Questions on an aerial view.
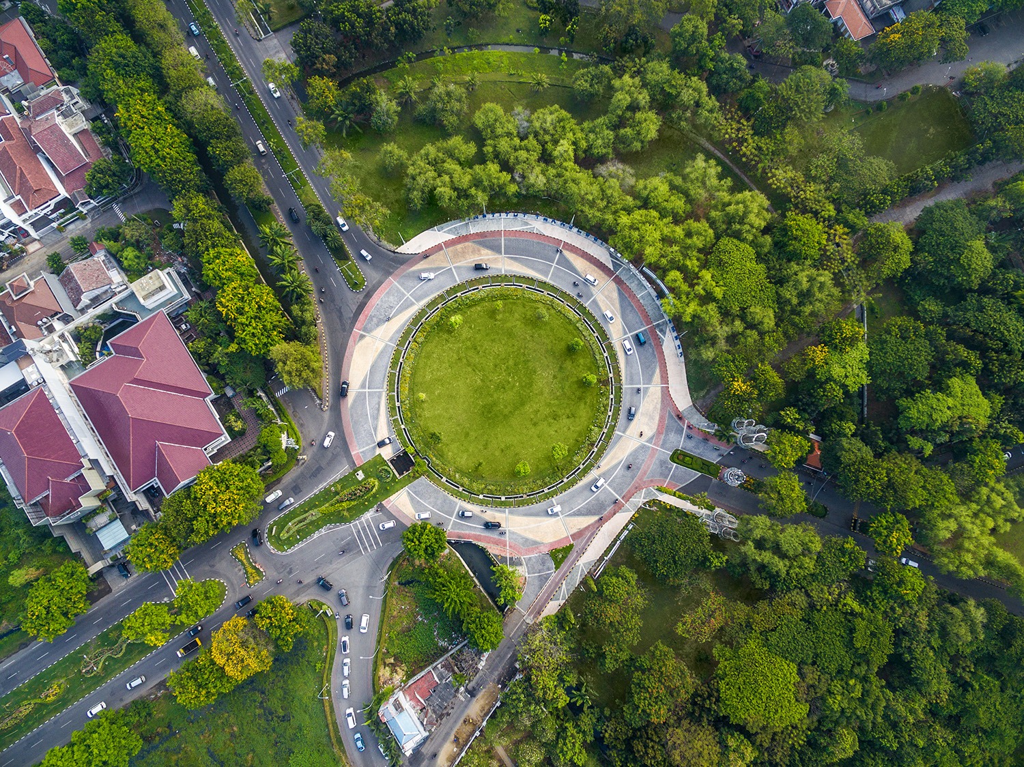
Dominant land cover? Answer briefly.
trees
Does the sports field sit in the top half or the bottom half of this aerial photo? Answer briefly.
top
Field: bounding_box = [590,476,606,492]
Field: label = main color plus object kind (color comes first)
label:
white vehicle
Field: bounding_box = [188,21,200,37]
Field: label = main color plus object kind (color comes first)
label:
blue vehicle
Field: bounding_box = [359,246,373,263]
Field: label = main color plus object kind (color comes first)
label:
white vehicle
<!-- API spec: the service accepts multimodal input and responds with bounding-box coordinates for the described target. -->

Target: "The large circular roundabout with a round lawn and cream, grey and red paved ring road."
[341,230,671,555]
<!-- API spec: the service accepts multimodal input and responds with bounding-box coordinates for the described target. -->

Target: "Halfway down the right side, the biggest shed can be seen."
[802,434,822,473]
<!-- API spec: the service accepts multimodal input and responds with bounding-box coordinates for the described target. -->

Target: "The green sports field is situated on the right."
[856,85,978,174]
